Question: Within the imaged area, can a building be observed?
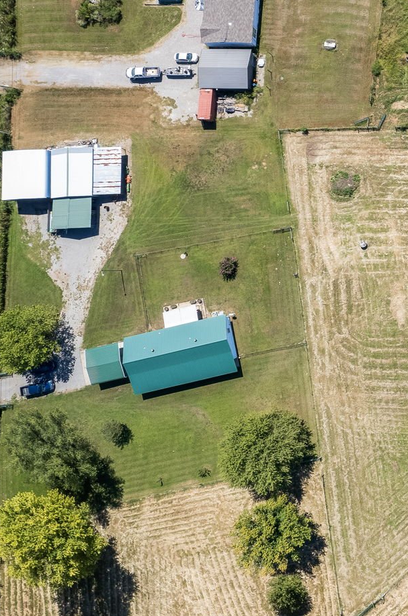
Yes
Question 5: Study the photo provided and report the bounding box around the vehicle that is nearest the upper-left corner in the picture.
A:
[126,65,159,79]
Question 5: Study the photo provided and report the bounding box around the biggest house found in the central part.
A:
[123,315,241,395]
